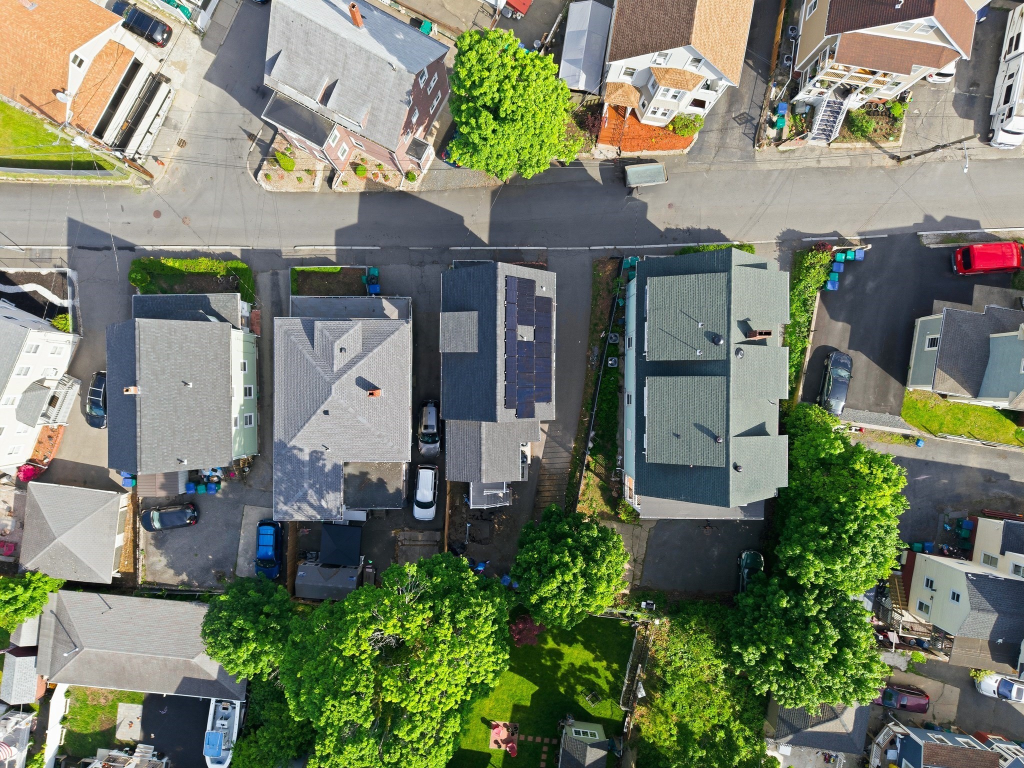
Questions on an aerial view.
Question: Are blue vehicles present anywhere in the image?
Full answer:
Yes, the photo shows a blue vehicle.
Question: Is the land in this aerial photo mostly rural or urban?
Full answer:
It looks urban.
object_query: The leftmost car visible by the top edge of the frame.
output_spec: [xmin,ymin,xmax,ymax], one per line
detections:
[116,3,176,46]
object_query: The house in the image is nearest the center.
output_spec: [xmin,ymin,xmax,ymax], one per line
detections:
[439,260,557,511]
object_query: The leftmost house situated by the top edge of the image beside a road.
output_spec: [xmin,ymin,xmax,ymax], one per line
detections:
[0,0,173,157]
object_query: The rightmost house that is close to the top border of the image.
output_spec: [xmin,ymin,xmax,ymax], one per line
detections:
[777,0,978,143]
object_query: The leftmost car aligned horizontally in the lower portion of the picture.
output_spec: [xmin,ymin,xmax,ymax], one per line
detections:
[143,502,199,533]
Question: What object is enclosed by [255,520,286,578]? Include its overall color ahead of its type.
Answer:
blue car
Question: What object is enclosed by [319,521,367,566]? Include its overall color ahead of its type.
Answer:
black gazebo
